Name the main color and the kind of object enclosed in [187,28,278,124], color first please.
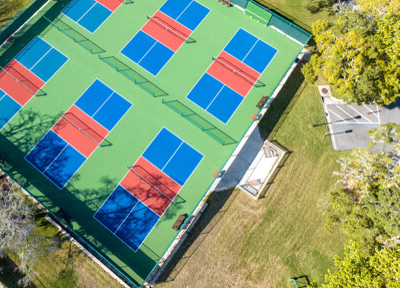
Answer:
blue sports court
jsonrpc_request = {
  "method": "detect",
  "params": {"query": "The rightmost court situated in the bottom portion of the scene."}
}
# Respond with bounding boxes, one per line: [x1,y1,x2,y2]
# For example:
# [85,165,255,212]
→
[94,127,204,252]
